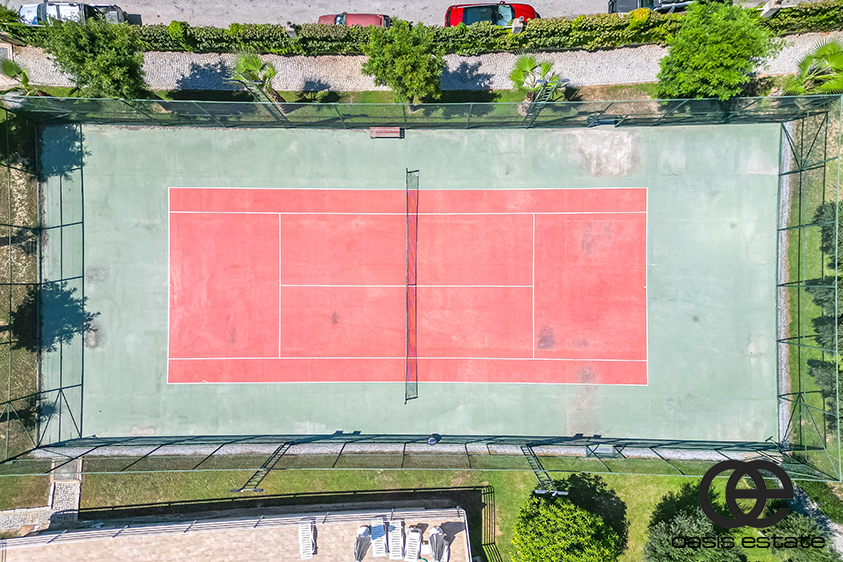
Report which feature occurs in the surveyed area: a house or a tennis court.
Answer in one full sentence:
The one in the frame is a tennis court.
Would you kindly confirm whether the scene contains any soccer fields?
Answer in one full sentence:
No, I can't see a single soccer field in this photo.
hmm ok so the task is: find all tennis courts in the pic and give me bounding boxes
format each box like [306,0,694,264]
[37,123,781,452]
